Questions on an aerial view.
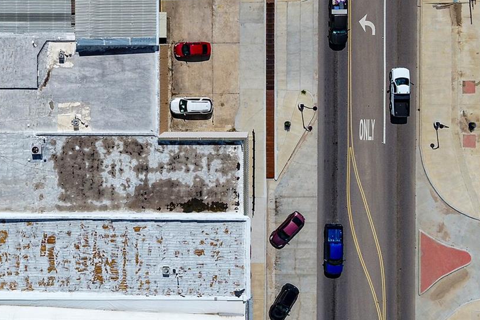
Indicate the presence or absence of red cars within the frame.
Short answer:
Yes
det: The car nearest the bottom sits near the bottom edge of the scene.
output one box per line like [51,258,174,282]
[268,280,300,320]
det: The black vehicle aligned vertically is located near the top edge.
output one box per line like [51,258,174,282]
[328,0,350,49]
